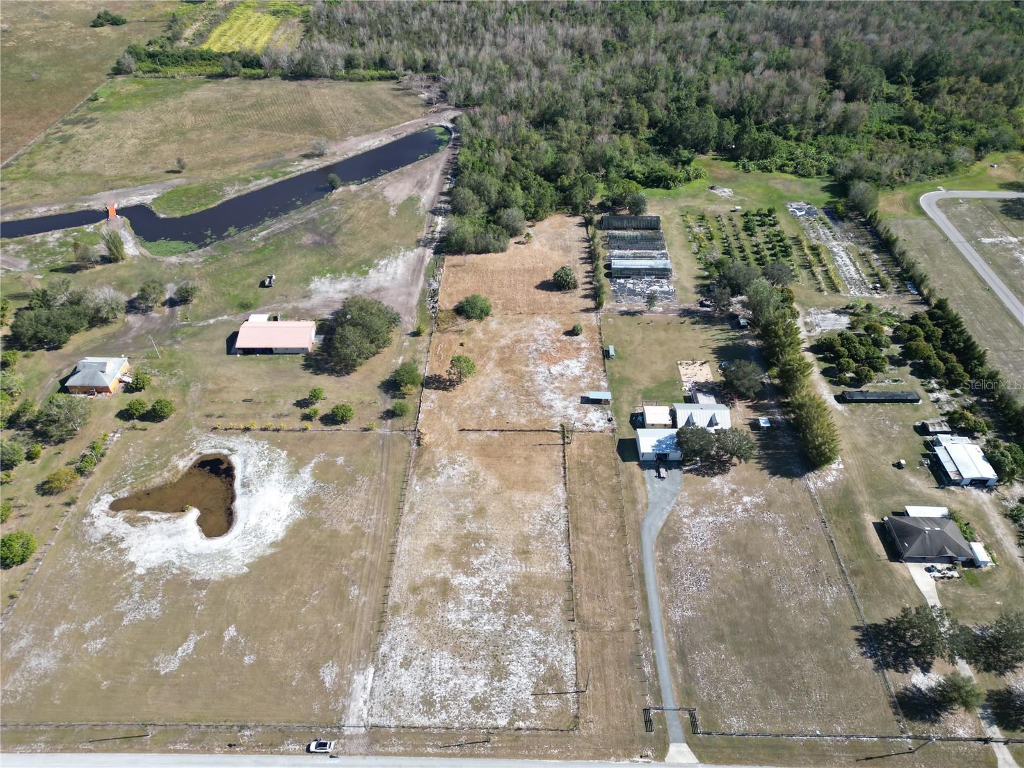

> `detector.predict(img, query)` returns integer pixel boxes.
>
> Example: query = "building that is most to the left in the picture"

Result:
[64,357,129,396]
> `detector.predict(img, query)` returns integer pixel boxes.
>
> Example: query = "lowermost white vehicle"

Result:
[309,740,335,755]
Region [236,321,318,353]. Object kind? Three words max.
barn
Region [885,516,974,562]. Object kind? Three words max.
house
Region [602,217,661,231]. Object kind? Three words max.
greenhouse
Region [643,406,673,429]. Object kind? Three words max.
shed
